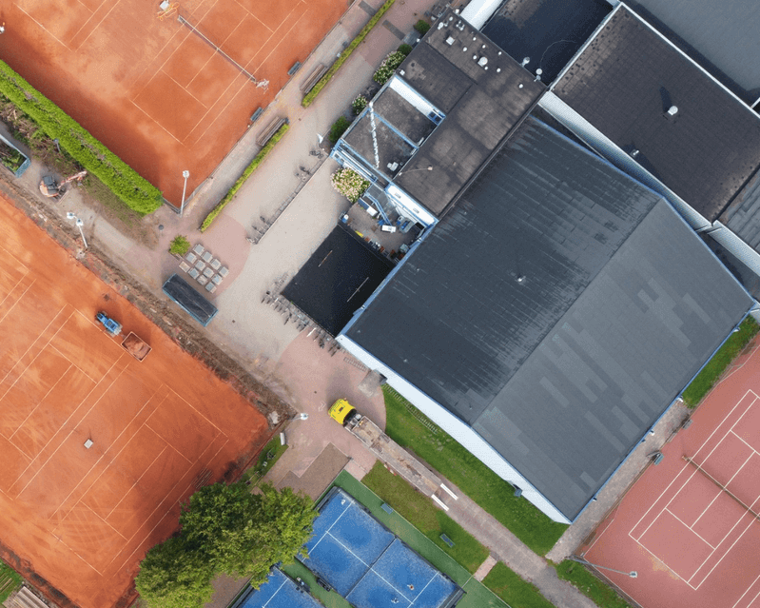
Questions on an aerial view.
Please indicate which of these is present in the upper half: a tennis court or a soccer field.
tennis court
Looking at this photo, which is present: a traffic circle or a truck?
truck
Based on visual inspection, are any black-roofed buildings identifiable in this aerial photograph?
Yes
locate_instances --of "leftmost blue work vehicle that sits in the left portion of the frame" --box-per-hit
[96,312,123,336]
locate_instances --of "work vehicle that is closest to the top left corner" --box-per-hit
[42,167,78,198]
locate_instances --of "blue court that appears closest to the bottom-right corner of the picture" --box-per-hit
[295,488,471,608]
